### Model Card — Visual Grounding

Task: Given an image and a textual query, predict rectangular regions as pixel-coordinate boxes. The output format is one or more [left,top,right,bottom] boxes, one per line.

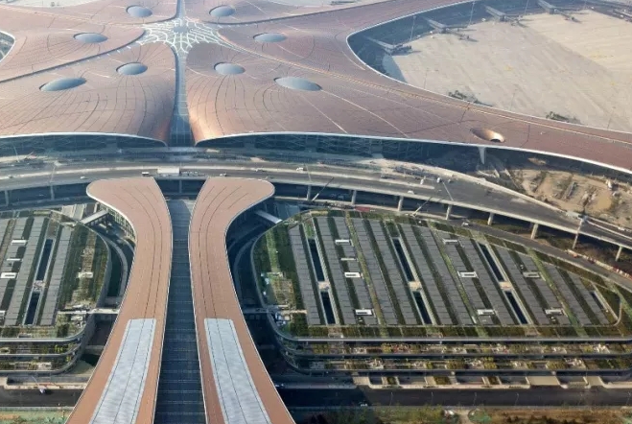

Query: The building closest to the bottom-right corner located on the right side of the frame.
[250,208,632,375]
